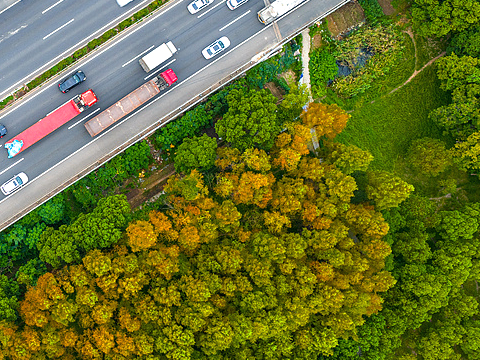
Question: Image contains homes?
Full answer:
No, this view has no home in it.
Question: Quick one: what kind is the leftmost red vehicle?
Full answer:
From above, the leftmost red vehicle can be identified as a truck.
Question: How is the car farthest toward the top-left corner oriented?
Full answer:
I'd say the car farthest toward the top-left corner is aligned on a diagonal in the picture.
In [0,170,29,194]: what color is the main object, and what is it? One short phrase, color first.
white car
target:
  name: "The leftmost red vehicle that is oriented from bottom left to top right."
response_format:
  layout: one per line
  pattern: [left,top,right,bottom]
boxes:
[2,87,99,158]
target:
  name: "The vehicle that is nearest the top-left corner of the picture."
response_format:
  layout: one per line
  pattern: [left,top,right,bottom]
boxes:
[58,70,86,93]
